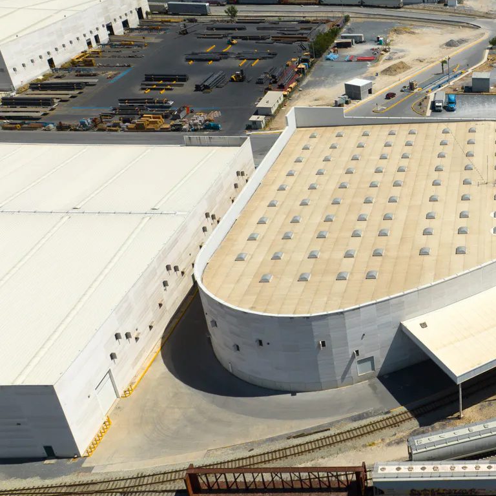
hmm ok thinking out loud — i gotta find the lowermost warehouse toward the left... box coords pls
[0,128,256,466]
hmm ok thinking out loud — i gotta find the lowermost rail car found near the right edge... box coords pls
[371,459,496,496]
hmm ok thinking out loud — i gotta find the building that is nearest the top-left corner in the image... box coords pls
[0,0,150,89]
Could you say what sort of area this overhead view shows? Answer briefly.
industrial area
